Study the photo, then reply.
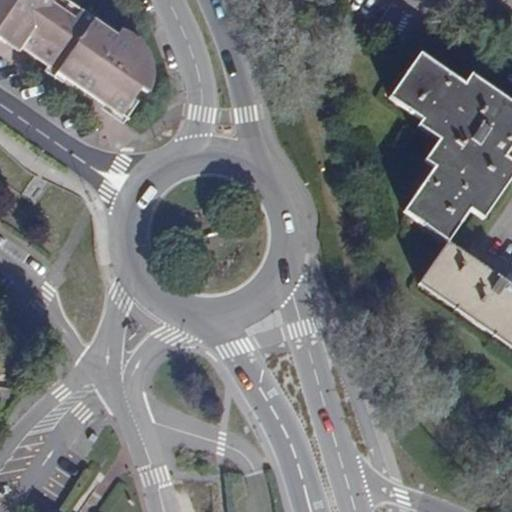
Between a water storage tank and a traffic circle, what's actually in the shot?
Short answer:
traffic circle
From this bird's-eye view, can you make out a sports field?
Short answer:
No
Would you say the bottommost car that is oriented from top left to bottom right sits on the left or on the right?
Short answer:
left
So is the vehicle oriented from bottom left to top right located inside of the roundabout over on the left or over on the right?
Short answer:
left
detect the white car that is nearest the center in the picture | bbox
[282,212,295,233]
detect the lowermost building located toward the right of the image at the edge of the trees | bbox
[416,240,512,351]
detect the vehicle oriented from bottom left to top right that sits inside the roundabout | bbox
[137,183,158,208]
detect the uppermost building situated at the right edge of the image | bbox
[386,51,512,242]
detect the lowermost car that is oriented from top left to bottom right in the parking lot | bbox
[60,457,83,476]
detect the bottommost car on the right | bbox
[319,410,334,432]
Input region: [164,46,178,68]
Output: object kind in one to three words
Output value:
vehicle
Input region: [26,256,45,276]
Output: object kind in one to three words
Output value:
car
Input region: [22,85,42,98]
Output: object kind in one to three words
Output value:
vehicle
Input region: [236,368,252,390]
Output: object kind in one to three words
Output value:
car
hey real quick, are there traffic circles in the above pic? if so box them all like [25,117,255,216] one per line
[108,135,320,344]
